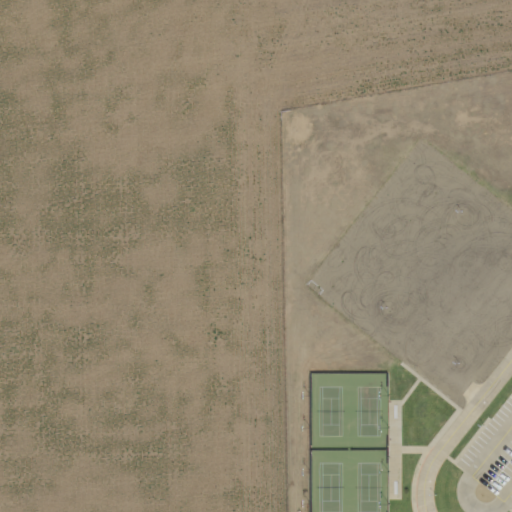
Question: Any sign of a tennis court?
Yes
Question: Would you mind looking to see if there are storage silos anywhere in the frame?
No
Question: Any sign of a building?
No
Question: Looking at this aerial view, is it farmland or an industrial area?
farmland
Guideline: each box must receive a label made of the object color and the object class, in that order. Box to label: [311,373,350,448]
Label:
green tennis court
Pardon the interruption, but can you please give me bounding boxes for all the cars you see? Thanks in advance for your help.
[487,470,497,478]
[500,472,510,482]
[488,484,500,496]
[495,461,504,469]
[492,480,502,490]
[482,474,492,482]
[478,478,488,487]
[490,464,500,473]
[498,456,508,464]
[503,446,512,456]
